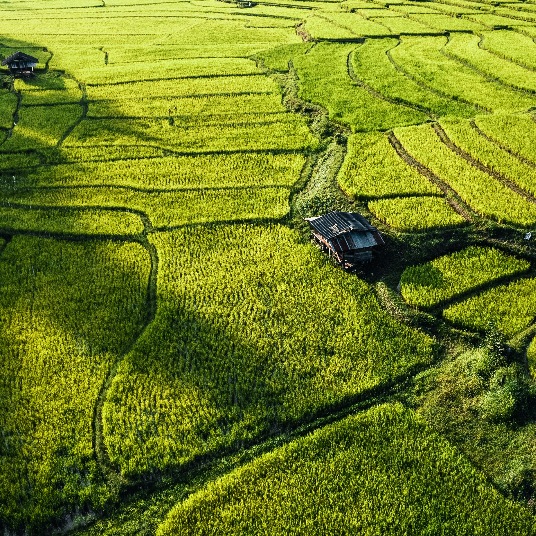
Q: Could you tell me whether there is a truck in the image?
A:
No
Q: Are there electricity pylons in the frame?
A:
No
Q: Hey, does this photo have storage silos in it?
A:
No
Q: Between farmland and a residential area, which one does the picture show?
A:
farmland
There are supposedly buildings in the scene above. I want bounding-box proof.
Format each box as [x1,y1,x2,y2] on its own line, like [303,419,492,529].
[297,210,385,266]
[1,50,45,79]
